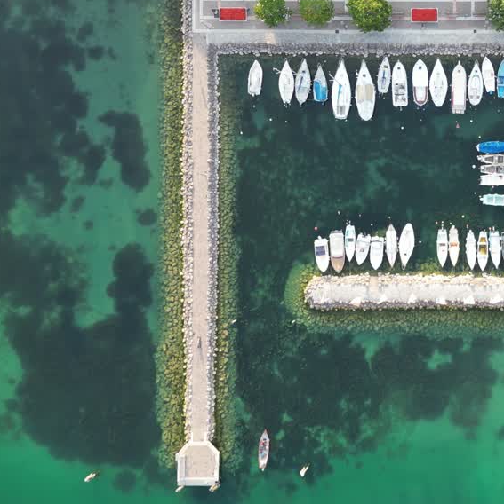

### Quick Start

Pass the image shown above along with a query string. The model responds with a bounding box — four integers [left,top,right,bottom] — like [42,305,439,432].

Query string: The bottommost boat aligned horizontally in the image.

[478,194,504,206]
